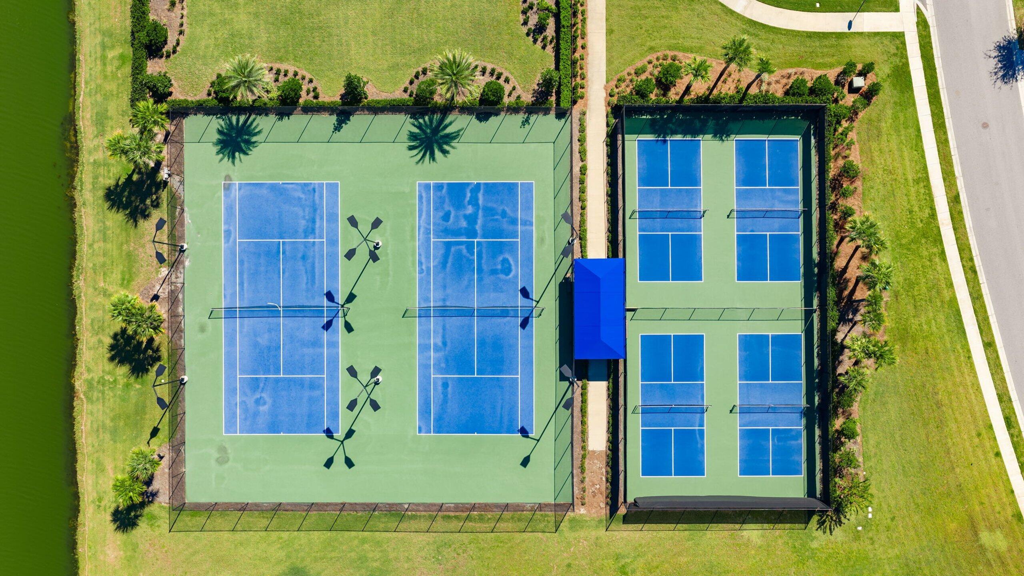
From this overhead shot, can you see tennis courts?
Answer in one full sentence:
Yes, the picture does show a tennis court.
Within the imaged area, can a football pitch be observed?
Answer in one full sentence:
No, I find no football pitch anywhere in the image.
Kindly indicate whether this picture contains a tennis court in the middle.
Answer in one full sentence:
Yes, the scene does show a tennis court in the middle.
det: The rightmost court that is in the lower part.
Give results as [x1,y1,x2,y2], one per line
[721,308,820,501]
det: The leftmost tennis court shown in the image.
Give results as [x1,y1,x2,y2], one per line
[183,115,378,502]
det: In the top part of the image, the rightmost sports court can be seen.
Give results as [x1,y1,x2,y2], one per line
[719,112,817,308]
